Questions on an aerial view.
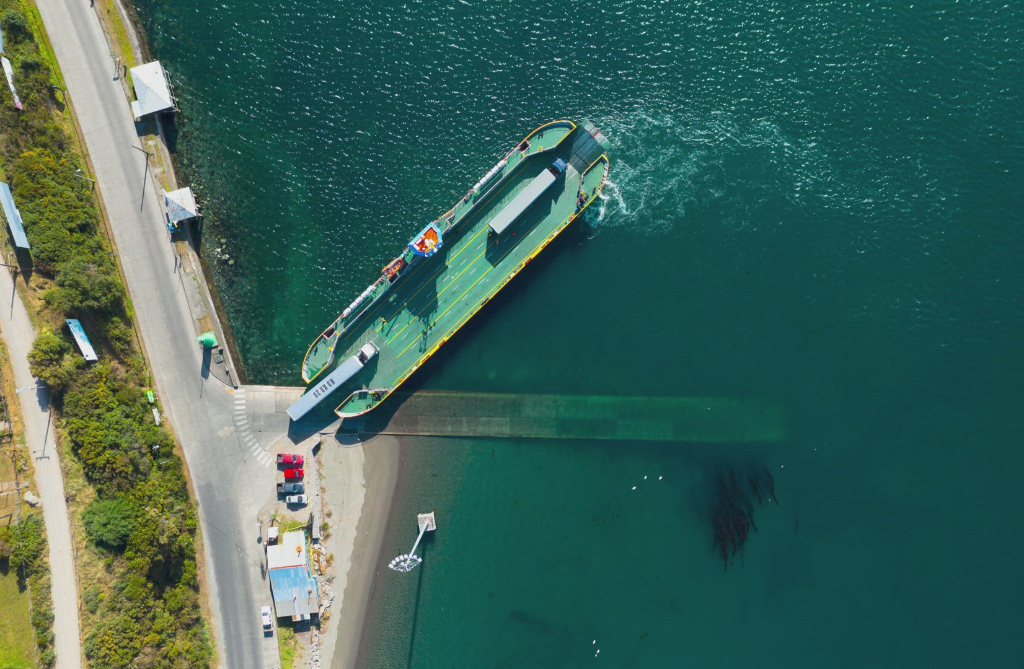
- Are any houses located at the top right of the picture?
No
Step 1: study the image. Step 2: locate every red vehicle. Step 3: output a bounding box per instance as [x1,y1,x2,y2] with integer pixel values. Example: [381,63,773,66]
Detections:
[284,470,304,481]
[276,456,303,467]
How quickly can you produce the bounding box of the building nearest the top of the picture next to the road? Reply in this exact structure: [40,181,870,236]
[129,60,189,120]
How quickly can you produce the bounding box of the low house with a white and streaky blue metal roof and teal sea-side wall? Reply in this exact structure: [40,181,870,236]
[268,528,322,621]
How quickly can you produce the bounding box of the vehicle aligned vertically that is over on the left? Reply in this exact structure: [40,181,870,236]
[261,608,273,635]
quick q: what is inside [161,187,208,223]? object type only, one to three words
building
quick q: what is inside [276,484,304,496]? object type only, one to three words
vehicle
